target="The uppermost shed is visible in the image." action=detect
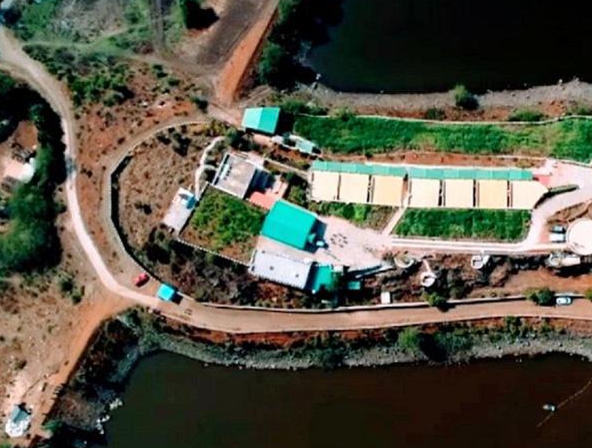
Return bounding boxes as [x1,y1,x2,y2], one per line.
[242,107,283,134]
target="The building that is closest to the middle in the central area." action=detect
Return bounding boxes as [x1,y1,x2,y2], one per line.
[261,199,318,250]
